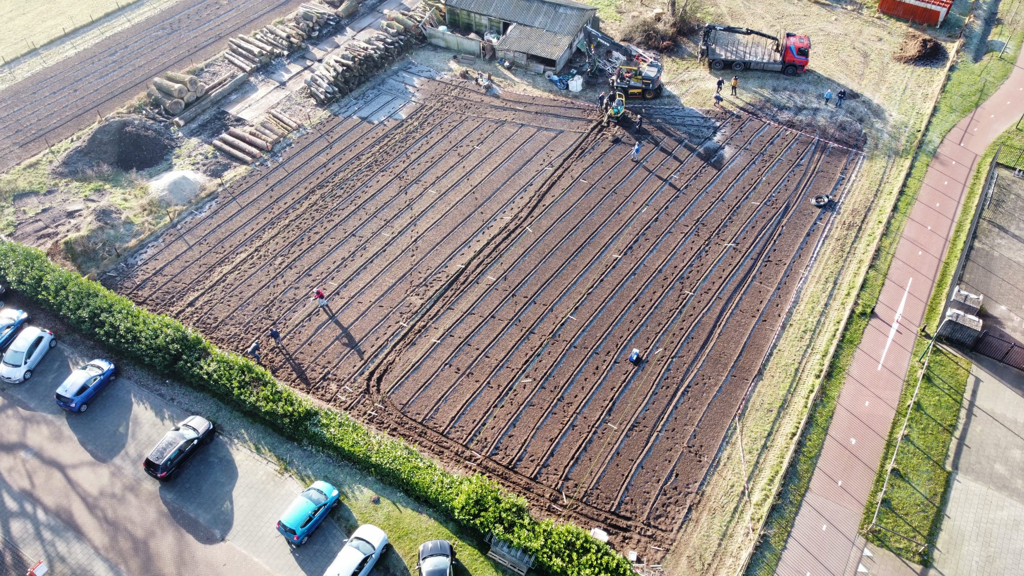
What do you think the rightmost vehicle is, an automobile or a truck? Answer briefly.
truck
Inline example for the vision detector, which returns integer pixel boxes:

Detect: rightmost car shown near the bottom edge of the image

[416,536,459,576]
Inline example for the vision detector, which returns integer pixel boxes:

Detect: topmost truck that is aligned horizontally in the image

[693,24,812,75]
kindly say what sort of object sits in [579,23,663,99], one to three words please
work vehicle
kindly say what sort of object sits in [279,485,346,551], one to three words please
car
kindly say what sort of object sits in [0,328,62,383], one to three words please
car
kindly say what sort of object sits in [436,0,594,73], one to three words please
shed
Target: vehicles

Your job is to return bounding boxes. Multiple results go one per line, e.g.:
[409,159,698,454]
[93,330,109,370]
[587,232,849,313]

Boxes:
[324,531,393,576]
[579,23,663,99]
[279,485,346,551]
[0,328,62,383]
[139,416,224,485]
[595,98,632,131]
[0,309,33,347]
[51,359,120,413]
[693,24,812,75]
[416,536,459,576]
